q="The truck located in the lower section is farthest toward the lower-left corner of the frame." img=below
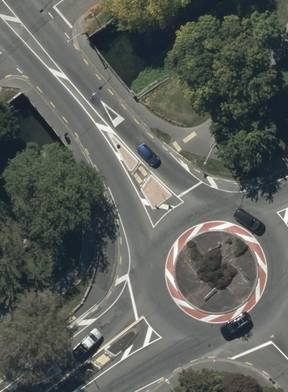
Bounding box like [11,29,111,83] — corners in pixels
[72,328,102,358]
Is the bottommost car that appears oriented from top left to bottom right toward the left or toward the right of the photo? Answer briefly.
right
